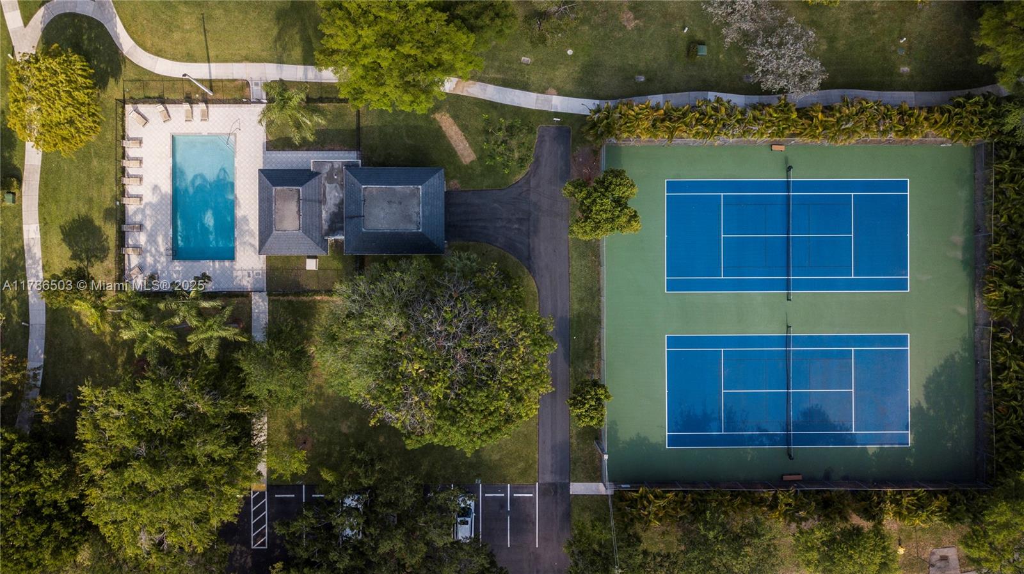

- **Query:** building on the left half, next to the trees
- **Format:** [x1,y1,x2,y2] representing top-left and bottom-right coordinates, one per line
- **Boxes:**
[258,159,448,255]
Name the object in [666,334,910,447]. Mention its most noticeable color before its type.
blue tennis court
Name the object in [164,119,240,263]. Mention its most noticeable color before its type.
blue swimming pool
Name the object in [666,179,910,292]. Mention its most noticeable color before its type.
blue tennis court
